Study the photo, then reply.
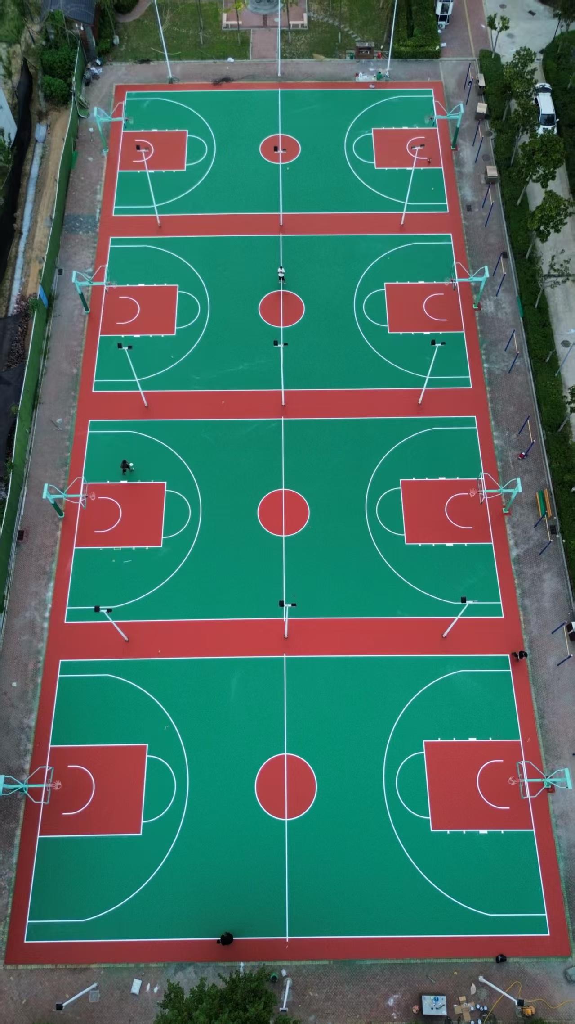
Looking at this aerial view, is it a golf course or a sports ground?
sports ground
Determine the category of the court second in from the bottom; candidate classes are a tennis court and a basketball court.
basketball court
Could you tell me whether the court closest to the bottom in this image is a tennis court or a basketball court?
basketball court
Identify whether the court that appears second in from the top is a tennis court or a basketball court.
basketball court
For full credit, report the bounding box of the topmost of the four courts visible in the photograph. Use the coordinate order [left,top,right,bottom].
[112,89,449,215]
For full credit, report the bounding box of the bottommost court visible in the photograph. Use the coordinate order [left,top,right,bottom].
[26,653,549,942]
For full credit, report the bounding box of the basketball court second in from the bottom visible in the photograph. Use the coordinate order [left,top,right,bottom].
[64,415,505,622]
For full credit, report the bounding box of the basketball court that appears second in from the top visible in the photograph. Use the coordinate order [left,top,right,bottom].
[91,233,473,391]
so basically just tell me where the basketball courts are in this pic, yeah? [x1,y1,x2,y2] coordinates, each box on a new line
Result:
[64,415,505,622]
[26,653,549,942]
[112,89,449,215]
[91,233,473,391]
